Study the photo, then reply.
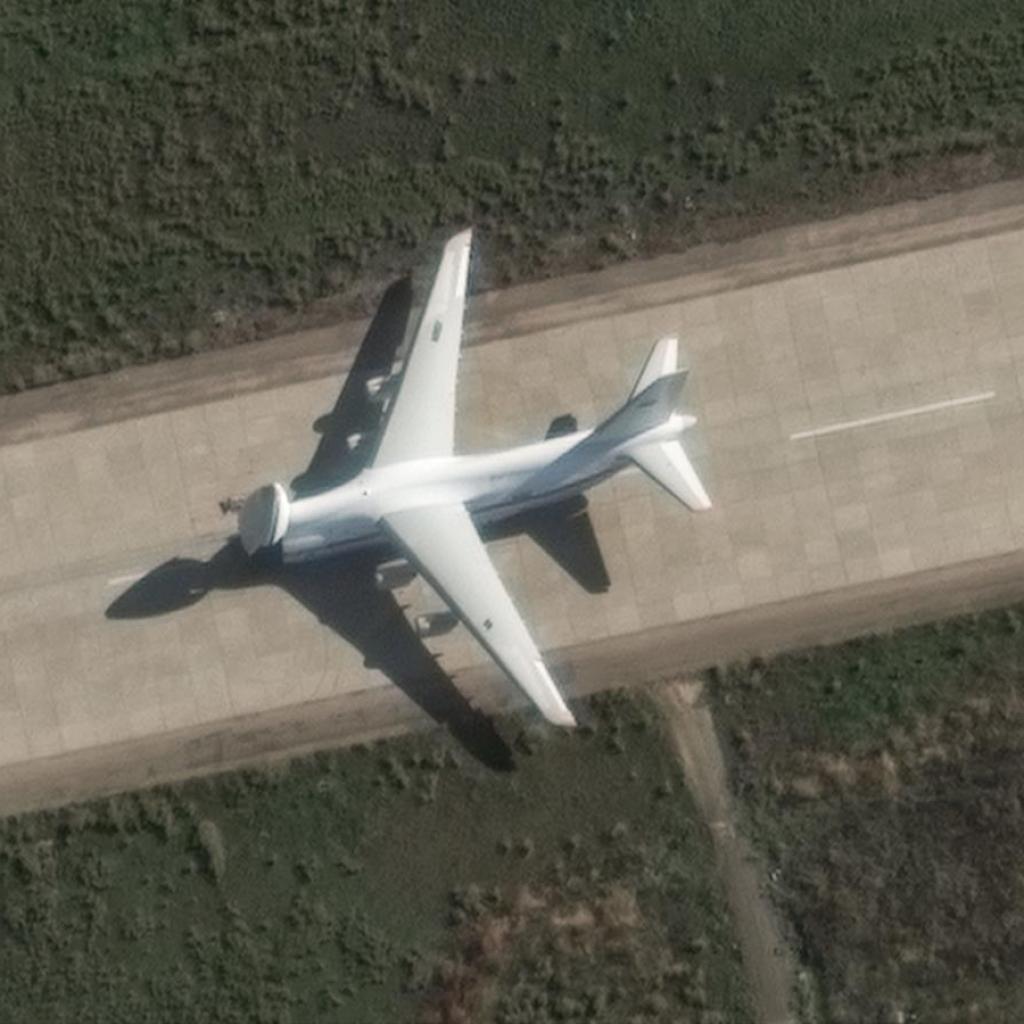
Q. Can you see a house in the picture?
No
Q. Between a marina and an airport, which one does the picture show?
airport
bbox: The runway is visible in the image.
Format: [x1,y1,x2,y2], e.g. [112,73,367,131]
[0,231,1024,767]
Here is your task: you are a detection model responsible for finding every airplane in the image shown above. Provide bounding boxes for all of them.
[238,230,712,727]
